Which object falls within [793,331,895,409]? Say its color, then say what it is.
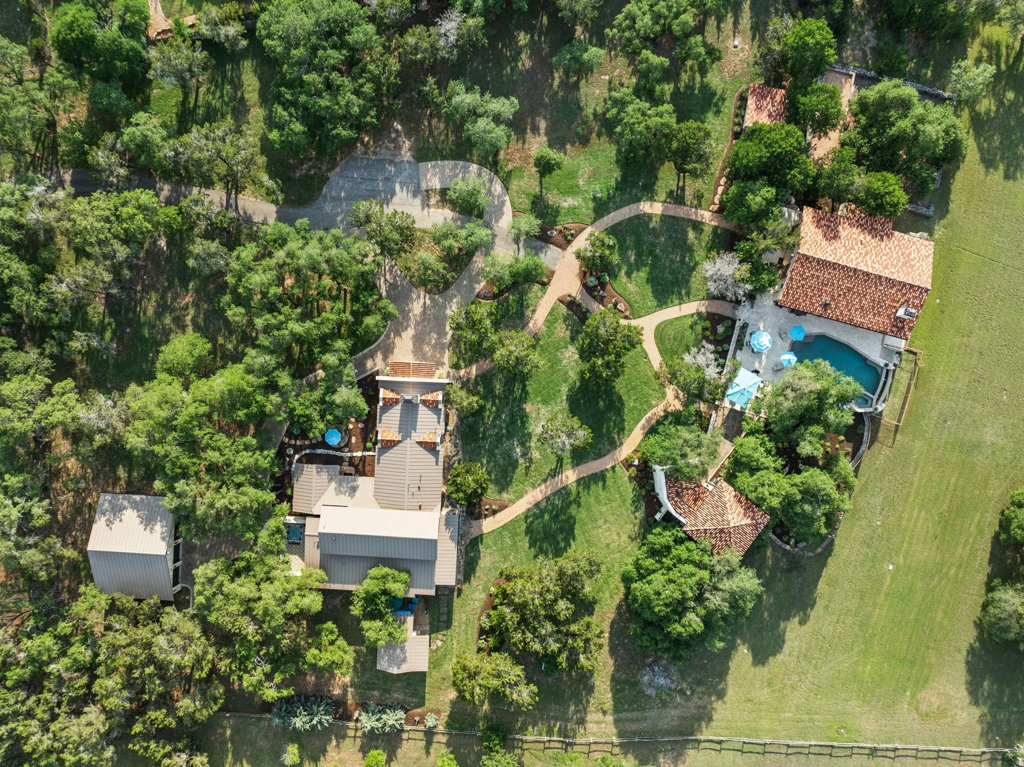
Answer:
blue swimming pool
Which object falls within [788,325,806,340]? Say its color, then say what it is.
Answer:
blue umbrella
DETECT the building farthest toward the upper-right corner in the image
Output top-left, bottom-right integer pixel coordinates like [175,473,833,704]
[737,83,789,135]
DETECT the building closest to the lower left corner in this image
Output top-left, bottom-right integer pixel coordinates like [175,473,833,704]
[86,493,194,601]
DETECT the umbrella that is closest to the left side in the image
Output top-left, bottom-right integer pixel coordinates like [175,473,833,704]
[325,429,341,445]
